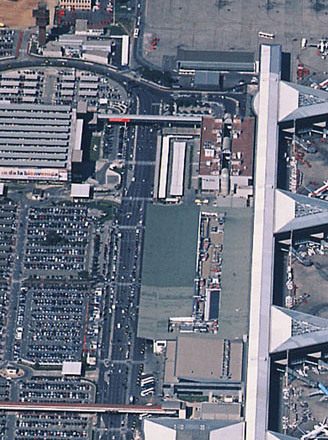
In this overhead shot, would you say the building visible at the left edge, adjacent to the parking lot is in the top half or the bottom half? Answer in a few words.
top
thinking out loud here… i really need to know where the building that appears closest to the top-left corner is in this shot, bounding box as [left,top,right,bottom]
[33,8,50,46]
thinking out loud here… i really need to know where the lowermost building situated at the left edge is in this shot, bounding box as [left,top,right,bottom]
[0,103,77,184]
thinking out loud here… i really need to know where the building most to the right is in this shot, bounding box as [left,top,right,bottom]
[246,43,281,440]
